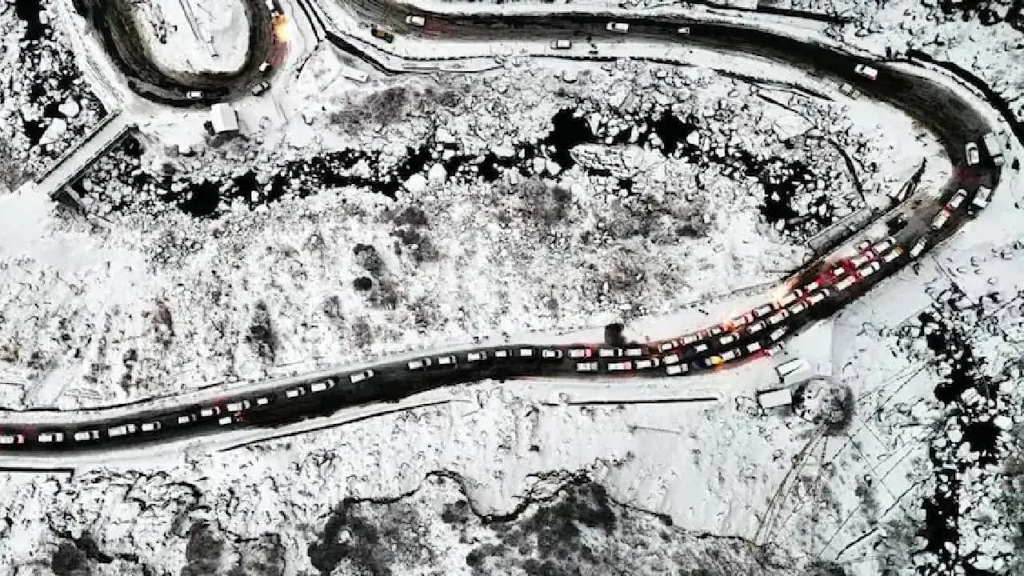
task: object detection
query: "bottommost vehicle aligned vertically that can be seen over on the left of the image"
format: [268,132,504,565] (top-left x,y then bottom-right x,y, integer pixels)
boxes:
[275,21,288,45]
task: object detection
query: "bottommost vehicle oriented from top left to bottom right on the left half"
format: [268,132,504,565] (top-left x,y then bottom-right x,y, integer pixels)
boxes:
[372,26,393,44]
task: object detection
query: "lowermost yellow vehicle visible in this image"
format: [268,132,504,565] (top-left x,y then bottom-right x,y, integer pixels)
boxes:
[706,354,726,366]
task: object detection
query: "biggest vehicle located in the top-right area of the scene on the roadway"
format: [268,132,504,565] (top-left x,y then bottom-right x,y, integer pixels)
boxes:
[981,131,1008,167]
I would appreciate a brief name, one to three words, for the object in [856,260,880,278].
car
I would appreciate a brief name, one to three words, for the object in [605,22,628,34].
vehicle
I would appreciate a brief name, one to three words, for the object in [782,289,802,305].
car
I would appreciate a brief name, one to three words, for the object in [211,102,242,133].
house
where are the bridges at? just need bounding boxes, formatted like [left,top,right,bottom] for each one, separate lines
[31,107,137,221]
